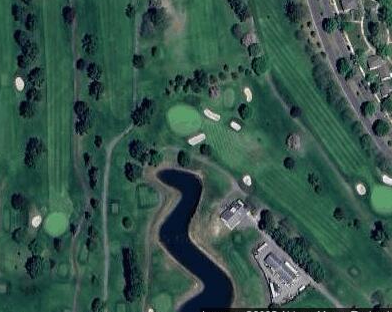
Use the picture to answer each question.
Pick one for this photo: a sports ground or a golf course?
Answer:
golf course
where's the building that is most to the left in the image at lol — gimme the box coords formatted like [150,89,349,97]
[220,199,246,231]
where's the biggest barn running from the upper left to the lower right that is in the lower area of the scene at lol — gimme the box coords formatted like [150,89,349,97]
[264,252,297,285]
